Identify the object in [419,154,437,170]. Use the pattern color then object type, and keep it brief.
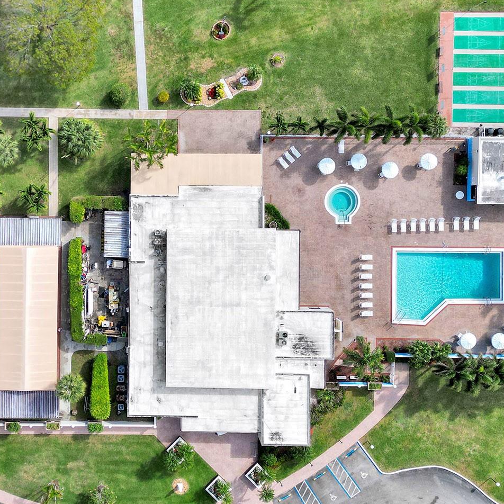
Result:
white umbrella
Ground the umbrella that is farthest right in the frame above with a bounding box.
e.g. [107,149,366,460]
[490,332,504,349]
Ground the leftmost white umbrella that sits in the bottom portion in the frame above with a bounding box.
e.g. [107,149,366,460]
[458,332,475,349]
